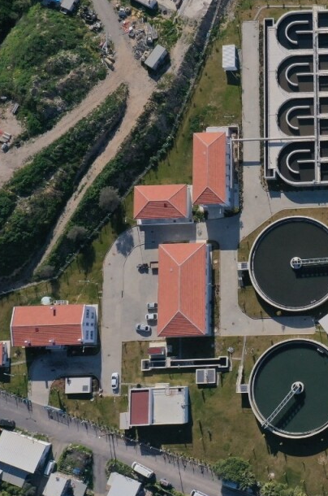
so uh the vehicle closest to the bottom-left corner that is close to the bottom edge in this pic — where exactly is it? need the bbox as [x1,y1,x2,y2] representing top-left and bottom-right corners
[40,457,58,481]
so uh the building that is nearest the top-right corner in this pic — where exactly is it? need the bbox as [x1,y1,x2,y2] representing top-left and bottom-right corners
[193,127,243,208]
